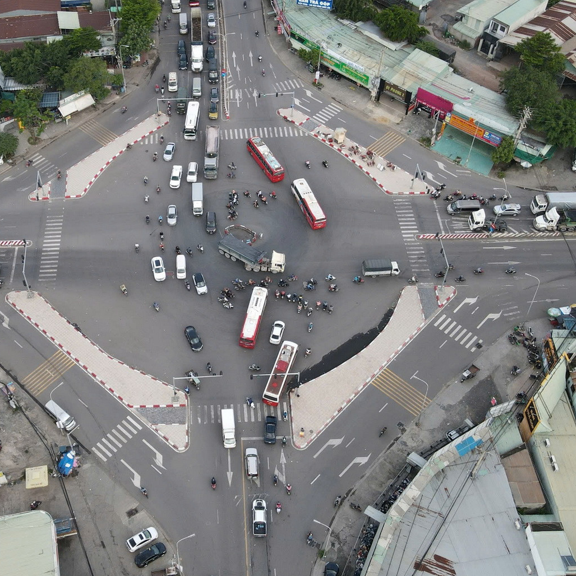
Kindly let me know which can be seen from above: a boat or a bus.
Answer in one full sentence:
The one in the frame is a bus.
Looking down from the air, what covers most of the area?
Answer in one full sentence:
What you mostly see from above here is paved ground.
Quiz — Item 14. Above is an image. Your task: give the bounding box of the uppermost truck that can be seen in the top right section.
[429,33,470,59]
